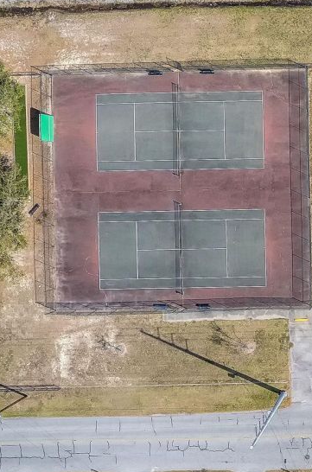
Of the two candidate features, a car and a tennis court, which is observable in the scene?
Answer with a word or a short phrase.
tennis court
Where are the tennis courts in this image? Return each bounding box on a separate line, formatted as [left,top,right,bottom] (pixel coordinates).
[54,189,312,311]
[53,68,311,192]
